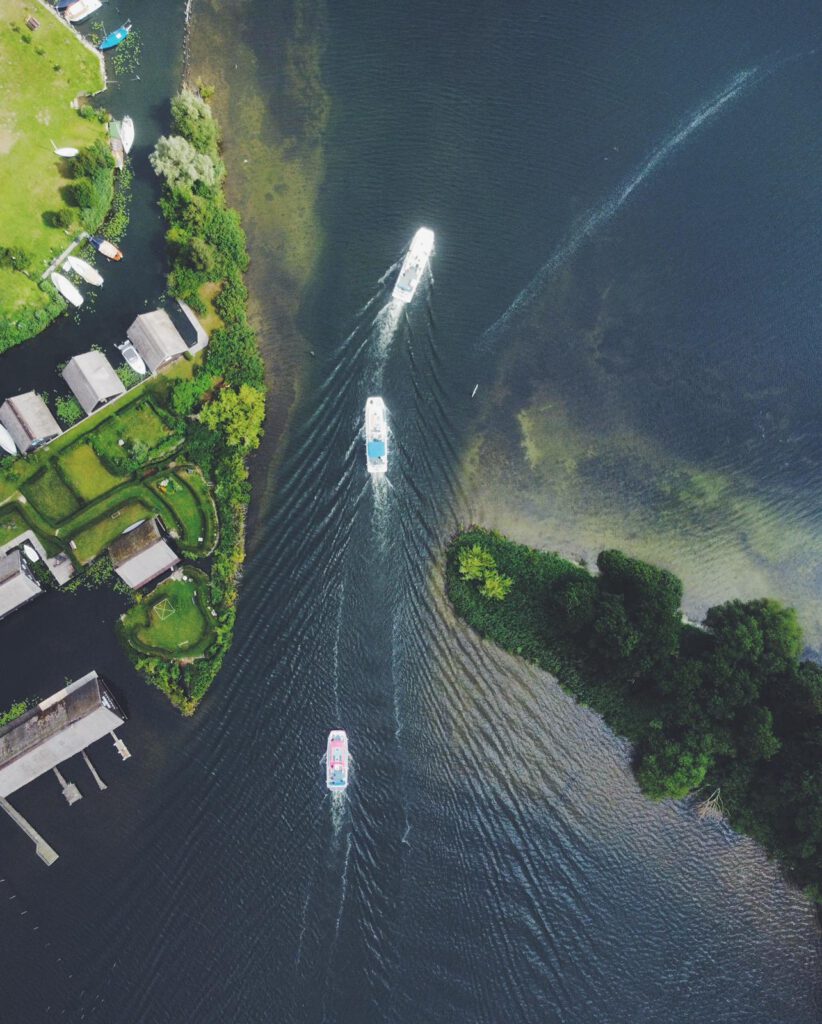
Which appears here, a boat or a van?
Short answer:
boat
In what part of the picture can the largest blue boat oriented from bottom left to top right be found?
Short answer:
top left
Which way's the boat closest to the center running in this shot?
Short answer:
from top to bottom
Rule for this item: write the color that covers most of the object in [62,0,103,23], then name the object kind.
white boat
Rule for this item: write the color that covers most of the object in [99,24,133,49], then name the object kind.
blue boat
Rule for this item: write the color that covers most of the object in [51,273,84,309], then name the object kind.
white boat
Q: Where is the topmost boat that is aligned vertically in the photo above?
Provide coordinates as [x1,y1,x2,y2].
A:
[120,116,133,154]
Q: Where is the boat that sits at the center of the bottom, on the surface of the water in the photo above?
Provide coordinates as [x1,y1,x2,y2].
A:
[325,731,350,799]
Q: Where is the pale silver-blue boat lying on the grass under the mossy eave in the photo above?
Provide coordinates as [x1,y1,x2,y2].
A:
[120,519,145,535]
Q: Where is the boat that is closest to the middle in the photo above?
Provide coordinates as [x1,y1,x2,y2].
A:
[364,396,388,476]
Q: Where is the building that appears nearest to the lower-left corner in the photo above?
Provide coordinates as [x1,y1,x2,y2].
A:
[0,671,128,801]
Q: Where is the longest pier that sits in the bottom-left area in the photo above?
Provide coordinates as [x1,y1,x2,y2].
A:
[1,798,59,866]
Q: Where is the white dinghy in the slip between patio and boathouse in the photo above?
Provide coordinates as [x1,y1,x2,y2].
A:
[24,545,40,562]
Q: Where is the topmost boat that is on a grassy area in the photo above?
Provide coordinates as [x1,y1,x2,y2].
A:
[50,139,79,156]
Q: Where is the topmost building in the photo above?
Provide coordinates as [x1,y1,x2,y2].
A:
[127,308,190,373]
